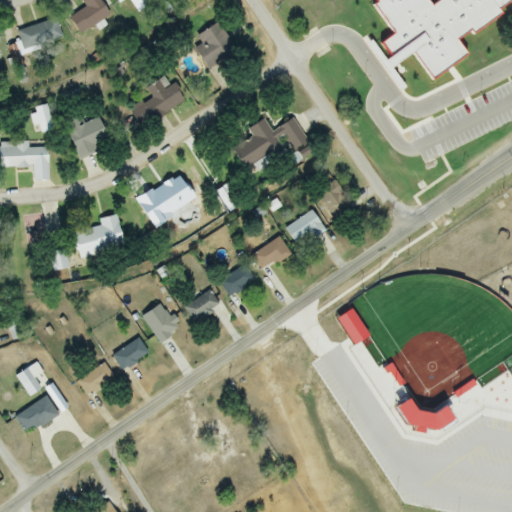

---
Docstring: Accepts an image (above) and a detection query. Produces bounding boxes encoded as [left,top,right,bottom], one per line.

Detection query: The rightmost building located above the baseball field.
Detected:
[377,0,512,80]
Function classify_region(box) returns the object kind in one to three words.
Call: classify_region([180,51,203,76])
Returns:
swimming pool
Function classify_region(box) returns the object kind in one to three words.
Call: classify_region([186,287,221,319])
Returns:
house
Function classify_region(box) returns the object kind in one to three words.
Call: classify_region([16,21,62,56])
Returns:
house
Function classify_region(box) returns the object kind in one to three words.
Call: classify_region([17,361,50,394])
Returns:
building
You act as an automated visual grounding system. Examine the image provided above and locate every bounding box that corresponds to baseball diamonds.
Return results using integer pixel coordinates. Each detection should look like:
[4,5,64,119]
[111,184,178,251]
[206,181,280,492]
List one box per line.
[338,274,512,402]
